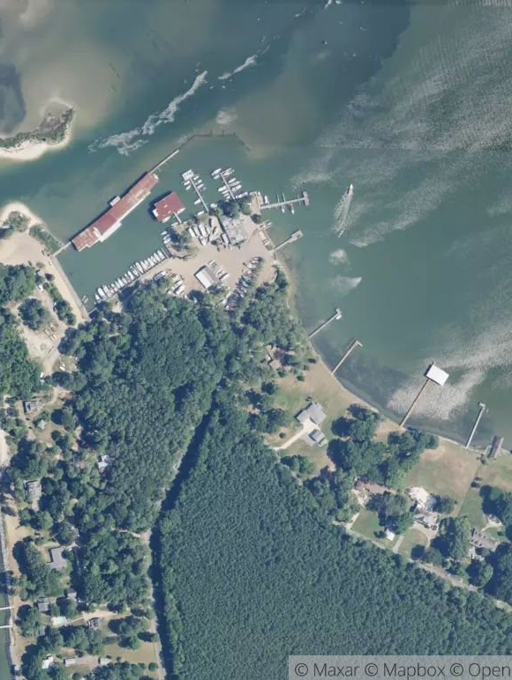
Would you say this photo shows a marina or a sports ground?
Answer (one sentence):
The picture captures a marina.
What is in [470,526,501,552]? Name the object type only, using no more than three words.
house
